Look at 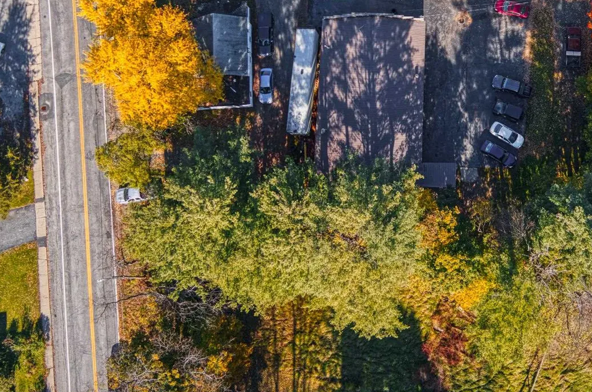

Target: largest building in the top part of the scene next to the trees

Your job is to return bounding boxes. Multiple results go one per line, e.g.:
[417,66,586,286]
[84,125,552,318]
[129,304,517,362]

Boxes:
[315,15,426,181]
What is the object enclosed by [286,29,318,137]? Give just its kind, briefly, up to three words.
trailer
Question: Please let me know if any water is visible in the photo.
No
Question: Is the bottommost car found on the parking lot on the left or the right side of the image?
right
